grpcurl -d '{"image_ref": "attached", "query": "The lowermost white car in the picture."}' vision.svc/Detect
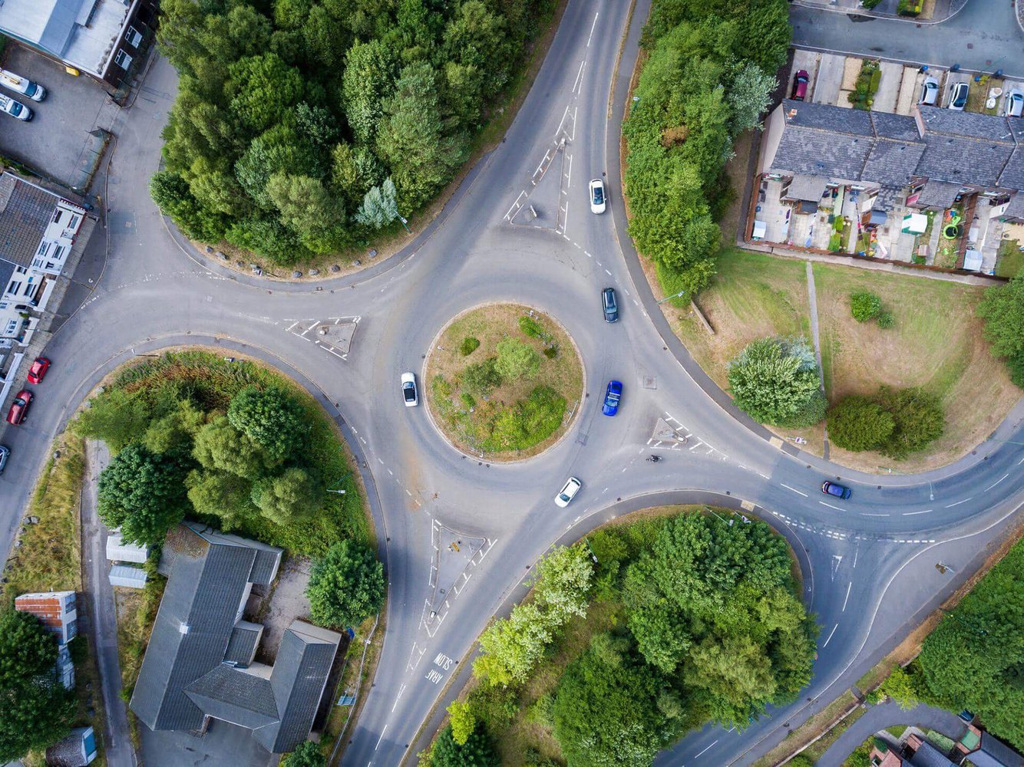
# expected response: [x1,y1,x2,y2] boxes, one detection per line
[554,475,582,509]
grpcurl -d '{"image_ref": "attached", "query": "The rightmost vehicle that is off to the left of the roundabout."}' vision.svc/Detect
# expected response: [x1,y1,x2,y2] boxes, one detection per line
[400,372,418,407]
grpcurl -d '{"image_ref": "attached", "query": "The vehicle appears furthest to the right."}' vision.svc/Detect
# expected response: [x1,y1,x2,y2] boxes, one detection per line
[1003,87,1024,119]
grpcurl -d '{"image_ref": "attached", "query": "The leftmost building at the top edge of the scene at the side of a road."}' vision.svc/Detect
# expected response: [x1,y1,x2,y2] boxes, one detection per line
[0,0,162,93]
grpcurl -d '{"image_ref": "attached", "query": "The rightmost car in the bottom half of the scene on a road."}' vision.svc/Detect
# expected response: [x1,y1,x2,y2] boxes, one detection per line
[818,479,850,500]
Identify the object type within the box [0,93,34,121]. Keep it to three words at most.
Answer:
van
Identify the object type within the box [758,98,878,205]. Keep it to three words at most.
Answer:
house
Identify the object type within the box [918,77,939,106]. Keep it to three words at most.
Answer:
car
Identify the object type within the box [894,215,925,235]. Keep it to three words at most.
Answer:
gazebo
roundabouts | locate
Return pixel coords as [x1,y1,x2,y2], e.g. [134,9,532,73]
[422,301,587,466]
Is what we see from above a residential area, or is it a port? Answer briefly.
residential area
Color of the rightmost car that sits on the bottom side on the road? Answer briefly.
blue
